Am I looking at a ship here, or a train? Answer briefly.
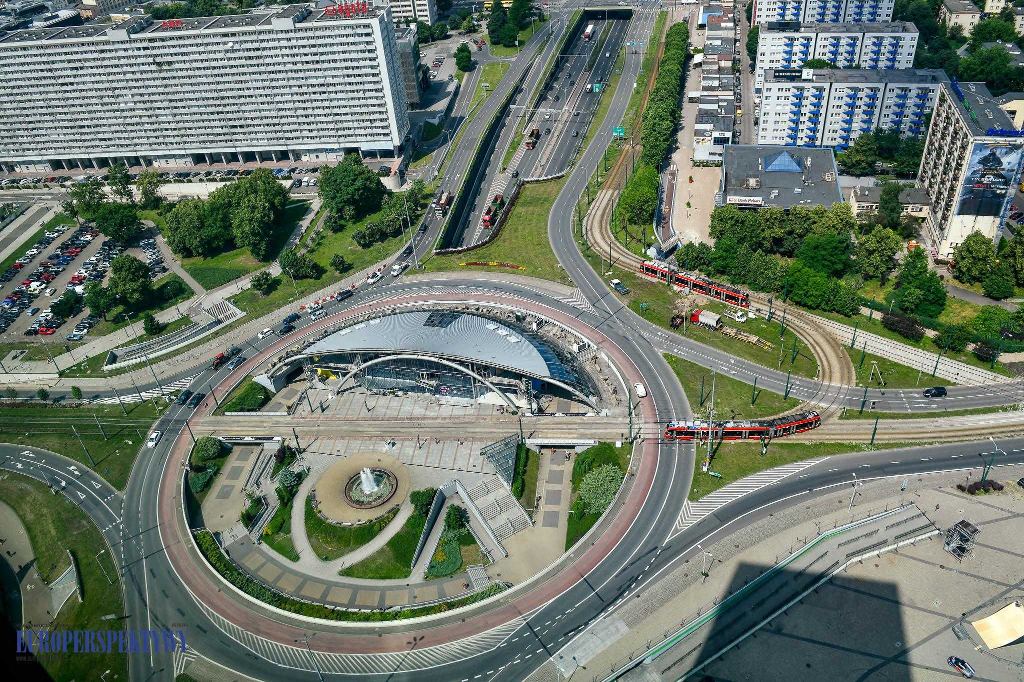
train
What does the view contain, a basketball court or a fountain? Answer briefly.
fountain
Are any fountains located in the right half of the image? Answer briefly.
No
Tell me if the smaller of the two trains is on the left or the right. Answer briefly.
right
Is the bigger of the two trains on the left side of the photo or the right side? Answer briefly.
right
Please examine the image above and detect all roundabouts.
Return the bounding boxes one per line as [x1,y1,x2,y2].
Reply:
[120,279,695,682]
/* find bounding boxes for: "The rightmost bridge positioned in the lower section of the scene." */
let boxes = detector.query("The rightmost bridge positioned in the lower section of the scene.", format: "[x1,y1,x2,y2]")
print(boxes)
[521,412,628,457]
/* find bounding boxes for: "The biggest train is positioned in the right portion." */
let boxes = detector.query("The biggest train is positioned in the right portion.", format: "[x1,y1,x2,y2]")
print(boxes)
[666,402,821,439]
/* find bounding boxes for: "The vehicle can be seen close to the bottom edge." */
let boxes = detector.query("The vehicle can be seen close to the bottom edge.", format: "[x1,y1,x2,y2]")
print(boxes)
[943,652,980,681]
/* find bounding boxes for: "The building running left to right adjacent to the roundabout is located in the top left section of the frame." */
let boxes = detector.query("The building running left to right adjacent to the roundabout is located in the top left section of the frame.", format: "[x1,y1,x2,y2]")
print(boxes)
[0,0,411,174]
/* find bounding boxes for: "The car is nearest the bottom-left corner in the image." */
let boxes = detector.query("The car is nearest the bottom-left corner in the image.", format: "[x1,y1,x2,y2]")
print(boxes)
[146,429,160,445]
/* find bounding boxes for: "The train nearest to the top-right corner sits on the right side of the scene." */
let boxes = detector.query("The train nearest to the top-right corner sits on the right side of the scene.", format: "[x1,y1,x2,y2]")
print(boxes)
[642,259,754,307]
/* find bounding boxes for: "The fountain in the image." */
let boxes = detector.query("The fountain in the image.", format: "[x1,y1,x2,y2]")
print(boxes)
[342,464,398,509]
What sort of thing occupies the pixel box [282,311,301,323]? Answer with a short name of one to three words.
vehicle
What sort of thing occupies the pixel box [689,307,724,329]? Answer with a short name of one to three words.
truck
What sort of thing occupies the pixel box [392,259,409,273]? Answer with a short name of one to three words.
vehicle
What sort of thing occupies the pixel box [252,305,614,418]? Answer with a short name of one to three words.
building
